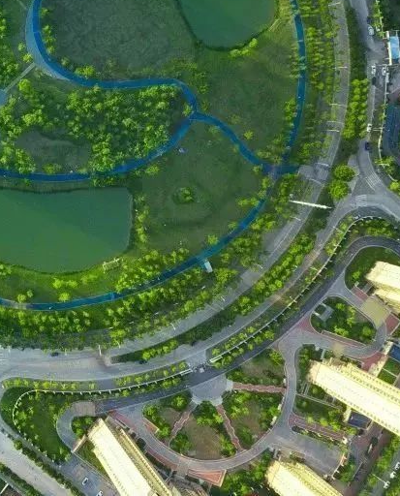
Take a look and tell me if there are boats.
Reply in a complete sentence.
No, no boat is visible in the view.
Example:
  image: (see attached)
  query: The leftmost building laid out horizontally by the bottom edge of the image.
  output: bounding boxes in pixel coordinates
[268,463,343,496]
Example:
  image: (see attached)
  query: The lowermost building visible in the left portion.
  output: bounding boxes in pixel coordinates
[88,419,191,496]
